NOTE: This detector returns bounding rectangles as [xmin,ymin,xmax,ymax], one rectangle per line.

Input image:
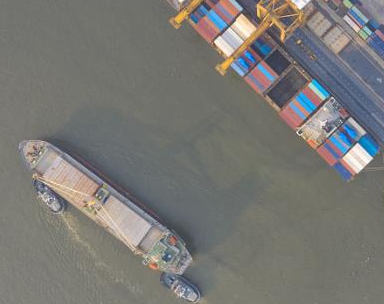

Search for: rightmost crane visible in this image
[215,0,318,74]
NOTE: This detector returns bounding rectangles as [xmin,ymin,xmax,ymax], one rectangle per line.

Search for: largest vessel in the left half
[21,140,195,277]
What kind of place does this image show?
port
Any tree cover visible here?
No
